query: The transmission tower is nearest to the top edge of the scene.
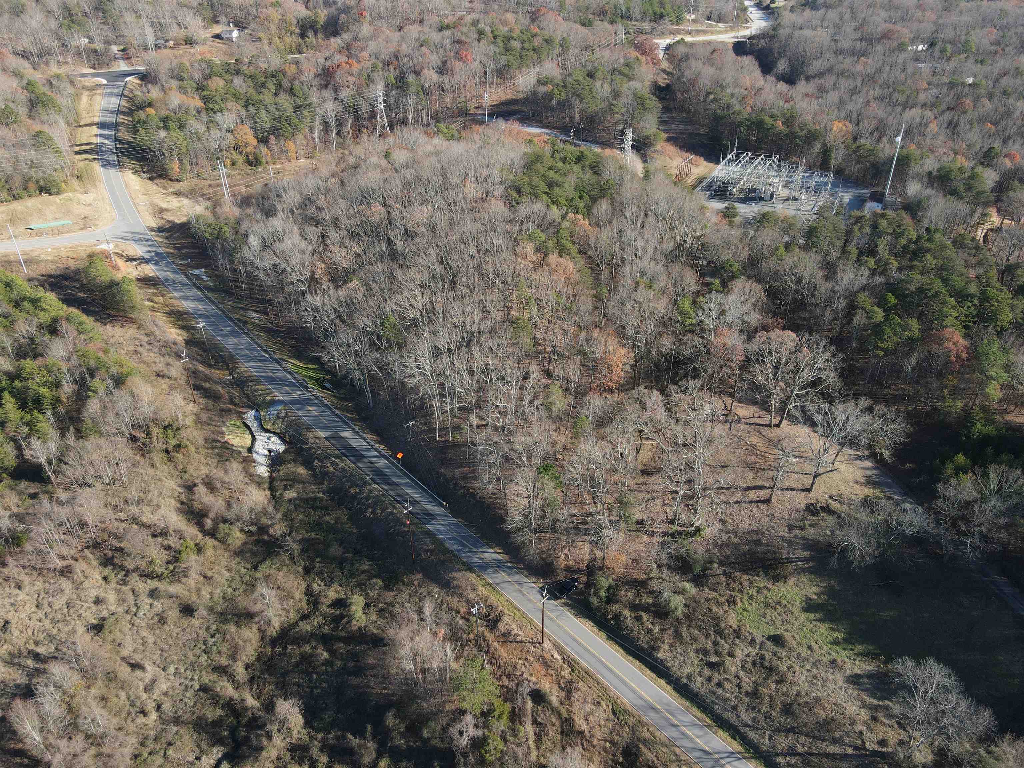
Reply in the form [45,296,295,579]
[371,87,392,136]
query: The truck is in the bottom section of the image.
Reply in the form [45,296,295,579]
[551,570,586,598]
